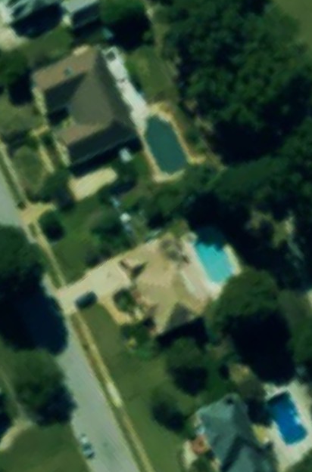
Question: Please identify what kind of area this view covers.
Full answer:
This image shows a residential area.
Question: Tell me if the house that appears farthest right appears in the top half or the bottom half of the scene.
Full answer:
The bottom half of the photo is where the house that appears farthest right is.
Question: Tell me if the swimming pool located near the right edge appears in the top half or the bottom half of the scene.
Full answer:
The swimming pool located near the right edge is in the bottom half of the image.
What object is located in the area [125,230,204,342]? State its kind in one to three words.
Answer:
house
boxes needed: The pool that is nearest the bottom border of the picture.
[266,381,312,467]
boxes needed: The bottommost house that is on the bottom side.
[201,395,277,472]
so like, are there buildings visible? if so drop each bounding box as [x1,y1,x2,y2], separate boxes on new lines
[125,230,204,342]
[201,395,277,472]
[0,0,41,26]
[33,44,137,166]
[64,0,105,28]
